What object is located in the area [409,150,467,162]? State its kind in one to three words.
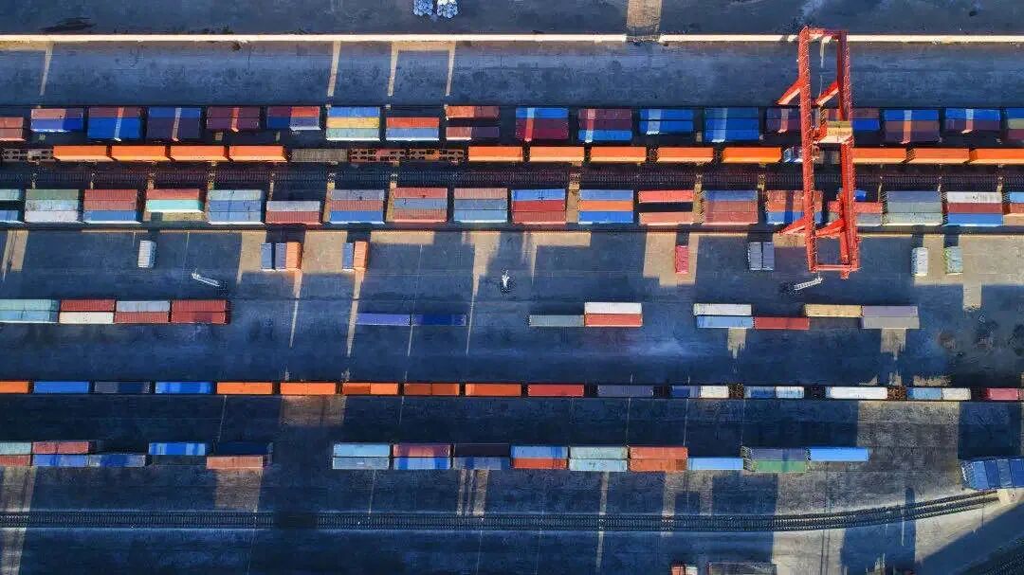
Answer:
rail car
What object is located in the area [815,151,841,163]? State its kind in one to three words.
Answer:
rail car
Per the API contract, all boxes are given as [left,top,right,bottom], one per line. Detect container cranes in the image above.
[774,24,862,280]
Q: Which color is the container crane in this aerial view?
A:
red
